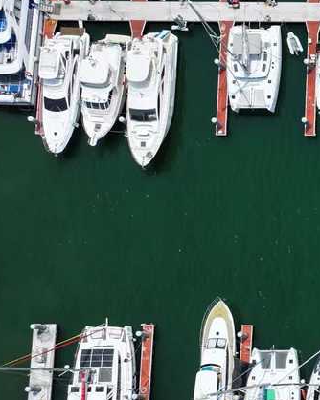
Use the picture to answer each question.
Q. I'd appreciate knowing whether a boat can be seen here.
Yes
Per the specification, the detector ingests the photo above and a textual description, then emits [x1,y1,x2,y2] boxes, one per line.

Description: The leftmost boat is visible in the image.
[0,0,43,104]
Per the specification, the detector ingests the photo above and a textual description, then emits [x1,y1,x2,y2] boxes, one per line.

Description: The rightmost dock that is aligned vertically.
[304,21,320,136]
